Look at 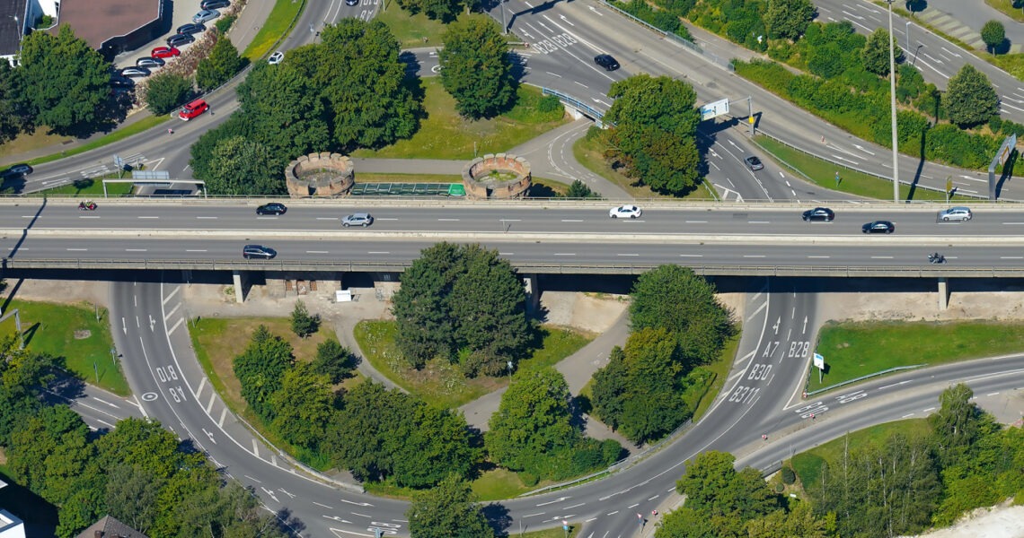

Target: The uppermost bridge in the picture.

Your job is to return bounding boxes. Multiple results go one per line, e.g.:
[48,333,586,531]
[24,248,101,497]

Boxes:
[538,85,611,138]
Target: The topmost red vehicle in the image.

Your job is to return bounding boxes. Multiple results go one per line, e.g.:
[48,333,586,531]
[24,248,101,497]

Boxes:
[153,46,180,58]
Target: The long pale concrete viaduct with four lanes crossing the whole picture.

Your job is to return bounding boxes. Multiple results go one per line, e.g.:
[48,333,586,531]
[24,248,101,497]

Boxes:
[0,192,1024,311]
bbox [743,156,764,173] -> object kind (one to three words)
car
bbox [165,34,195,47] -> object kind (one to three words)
vehicle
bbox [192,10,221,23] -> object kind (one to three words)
vehicle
